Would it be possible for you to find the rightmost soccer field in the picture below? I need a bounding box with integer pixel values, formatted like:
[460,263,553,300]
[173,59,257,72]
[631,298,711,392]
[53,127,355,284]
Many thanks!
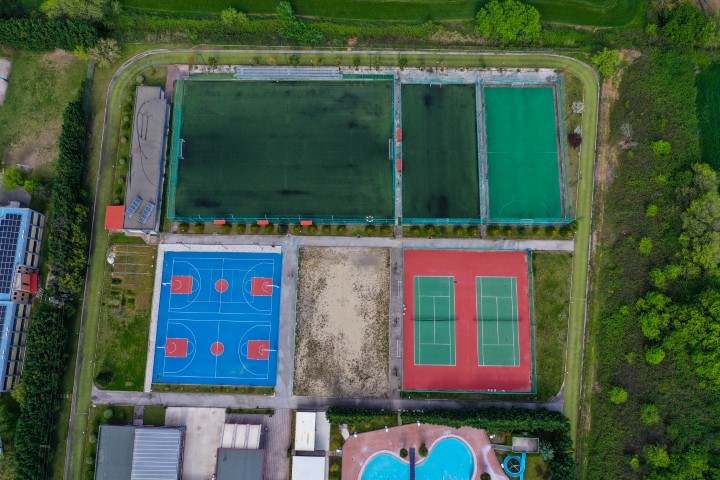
[402,84,481,219]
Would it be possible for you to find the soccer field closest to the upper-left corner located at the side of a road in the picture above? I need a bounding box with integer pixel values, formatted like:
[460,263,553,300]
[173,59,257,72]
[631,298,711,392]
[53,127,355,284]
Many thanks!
[173,79,394,219]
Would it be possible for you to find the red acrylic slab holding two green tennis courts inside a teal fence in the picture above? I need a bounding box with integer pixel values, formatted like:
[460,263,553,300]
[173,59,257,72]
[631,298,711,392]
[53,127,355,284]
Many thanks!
[403,249,533,391]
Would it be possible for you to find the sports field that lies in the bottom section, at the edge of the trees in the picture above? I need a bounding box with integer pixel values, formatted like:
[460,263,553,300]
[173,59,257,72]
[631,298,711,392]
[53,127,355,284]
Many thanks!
[293,248,390,397]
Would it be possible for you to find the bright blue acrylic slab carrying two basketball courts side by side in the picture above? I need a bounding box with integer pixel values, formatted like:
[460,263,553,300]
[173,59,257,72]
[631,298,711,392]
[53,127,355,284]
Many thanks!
[152,251,282,387]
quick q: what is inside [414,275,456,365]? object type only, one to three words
tennis court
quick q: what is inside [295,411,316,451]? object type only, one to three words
shed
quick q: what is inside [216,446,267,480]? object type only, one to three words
building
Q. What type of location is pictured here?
sports ground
